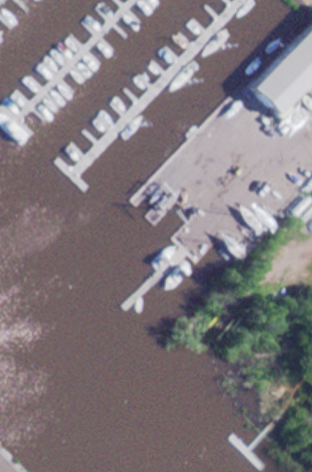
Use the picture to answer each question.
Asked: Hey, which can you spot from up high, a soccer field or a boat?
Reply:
boat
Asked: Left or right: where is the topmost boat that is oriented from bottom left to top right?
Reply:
right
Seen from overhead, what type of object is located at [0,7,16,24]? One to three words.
boat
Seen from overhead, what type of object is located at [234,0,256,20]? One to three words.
boat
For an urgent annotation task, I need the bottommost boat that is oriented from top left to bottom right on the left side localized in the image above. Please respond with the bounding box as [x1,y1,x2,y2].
[67,146,83,161]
